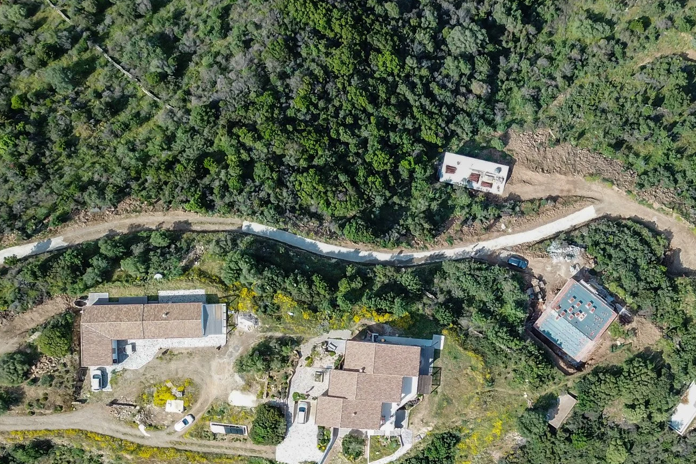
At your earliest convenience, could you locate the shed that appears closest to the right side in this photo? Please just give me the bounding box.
[667,380,696,435]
